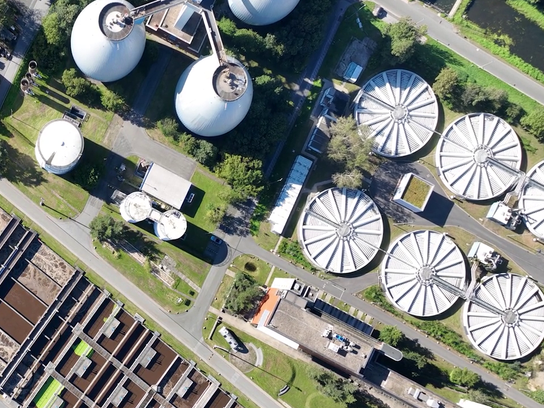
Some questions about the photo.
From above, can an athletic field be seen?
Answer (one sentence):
No, no athletic field can be seen from above.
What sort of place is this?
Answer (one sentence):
The area seen from above is an industrial area.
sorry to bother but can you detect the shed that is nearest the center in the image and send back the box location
[267,156,313,238]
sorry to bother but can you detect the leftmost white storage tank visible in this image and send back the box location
[33,116,83,174]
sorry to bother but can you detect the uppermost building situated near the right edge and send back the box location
[484,202,525,226]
